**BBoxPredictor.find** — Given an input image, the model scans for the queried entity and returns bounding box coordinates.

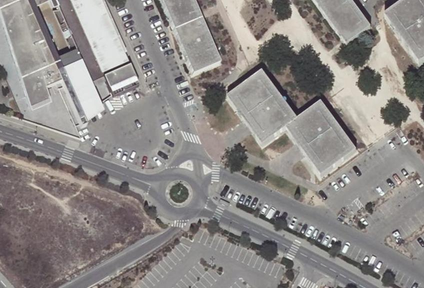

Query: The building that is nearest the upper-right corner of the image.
[384,0,424,67]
